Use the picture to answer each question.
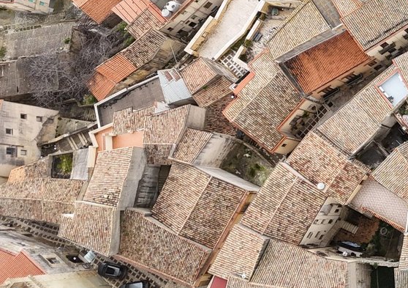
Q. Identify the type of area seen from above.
residential area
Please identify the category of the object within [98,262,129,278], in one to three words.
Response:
car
